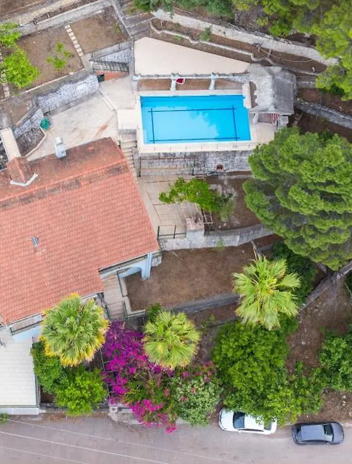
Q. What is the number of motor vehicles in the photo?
2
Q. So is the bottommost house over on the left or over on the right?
left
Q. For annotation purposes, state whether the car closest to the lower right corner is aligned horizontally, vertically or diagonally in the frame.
horizontally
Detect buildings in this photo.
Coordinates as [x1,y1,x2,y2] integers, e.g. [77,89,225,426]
[0,136,157,348]
[250,67,300,133]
